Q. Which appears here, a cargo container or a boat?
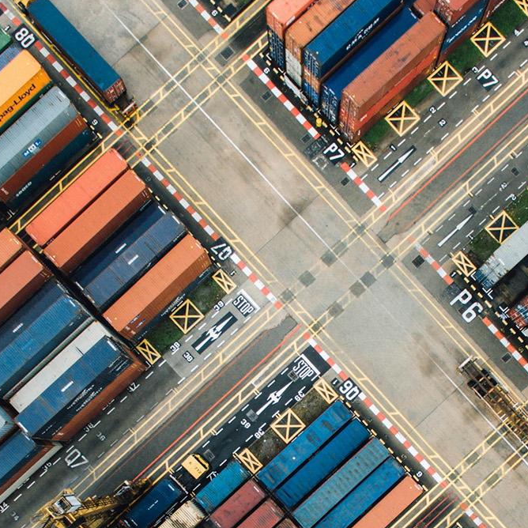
cargo container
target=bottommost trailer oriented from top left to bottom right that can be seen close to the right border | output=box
[457,355,528,447]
